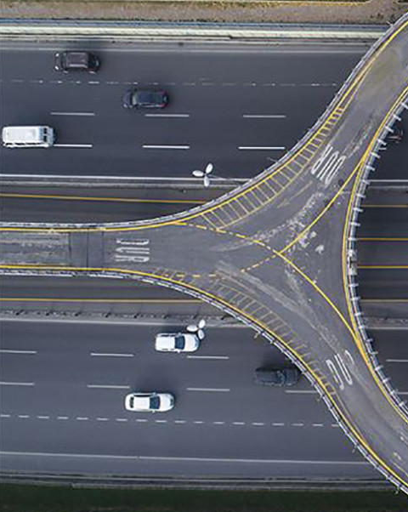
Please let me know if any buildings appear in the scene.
No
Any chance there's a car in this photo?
Yes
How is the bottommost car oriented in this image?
horizontally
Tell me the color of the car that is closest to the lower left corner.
white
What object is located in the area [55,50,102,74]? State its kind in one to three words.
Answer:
car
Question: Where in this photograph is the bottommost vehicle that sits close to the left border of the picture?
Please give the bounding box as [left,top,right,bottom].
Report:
[3,123,57,149]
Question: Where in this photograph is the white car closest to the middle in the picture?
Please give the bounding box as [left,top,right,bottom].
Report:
[153,331,201,355]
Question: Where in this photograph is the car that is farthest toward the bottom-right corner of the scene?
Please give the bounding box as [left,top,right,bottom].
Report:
[254,364,302,389]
